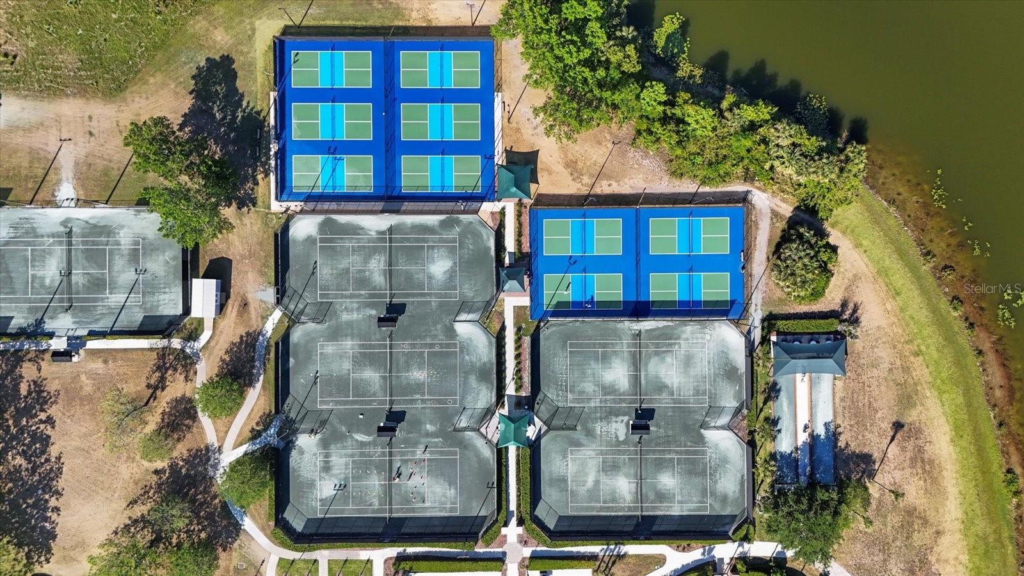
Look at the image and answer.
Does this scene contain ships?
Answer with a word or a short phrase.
No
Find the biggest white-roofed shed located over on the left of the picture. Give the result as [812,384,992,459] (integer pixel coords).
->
[192,279,226,318]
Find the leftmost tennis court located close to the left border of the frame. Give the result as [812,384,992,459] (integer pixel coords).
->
[0,233,141,310]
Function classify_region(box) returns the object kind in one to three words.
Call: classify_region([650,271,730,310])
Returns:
sports court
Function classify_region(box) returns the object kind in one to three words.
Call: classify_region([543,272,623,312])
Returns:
sports court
